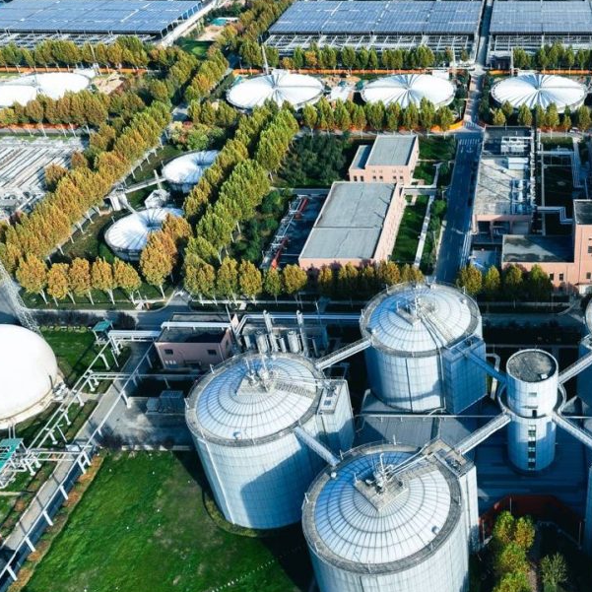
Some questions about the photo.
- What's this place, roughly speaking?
industrial area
